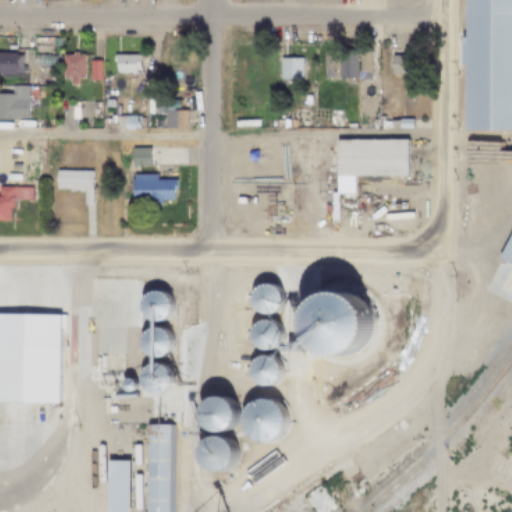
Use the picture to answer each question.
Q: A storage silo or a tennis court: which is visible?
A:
storage silo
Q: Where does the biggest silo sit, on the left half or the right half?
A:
right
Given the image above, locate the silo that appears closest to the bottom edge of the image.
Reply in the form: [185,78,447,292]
[195,433,241,473]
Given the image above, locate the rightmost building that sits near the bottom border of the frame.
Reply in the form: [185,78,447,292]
[150,424,178,512]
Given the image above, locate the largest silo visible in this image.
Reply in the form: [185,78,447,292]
[292,287,374,360]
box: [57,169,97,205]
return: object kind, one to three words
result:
house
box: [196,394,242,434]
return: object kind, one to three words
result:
silo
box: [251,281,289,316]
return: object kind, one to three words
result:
silo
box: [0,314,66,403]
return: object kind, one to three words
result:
building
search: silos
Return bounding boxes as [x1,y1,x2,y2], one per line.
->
[140,289,178,323]
[196,394,242,434]
[195,433,241,473]
[250,353,288,388]
[251,281,289,316]
[240,397,290,442]
[292,287,374,360]
[250,317,288,351]
[140,360,178,394]
[140,324,178,358]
